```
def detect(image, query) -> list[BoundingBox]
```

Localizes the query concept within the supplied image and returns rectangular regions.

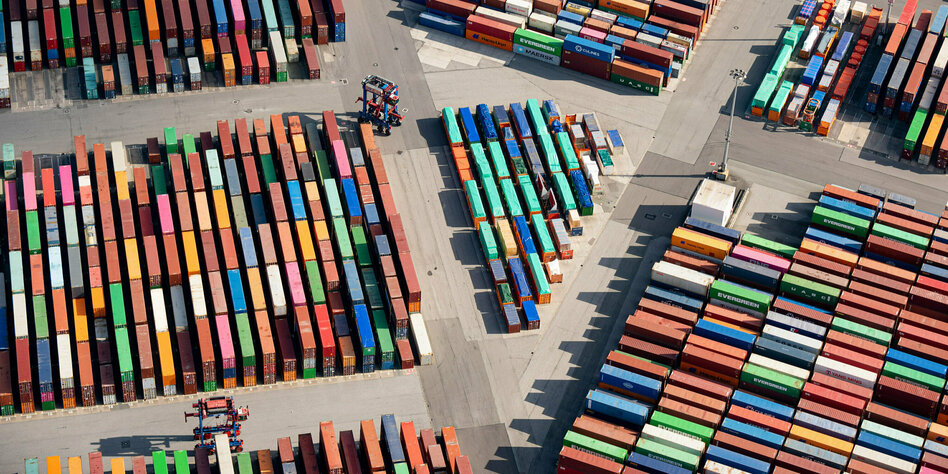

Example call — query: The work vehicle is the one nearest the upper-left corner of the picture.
[354,74,406,138]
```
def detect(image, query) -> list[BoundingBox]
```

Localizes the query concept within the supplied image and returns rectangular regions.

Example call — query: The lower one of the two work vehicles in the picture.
[177,394,251,453]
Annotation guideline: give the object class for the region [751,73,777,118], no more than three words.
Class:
shipping container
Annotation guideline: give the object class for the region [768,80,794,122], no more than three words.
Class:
shipping container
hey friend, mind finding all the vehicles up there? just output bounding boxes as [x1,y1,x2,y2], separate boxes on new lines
[177,394,251,453]
[354,74,406,138]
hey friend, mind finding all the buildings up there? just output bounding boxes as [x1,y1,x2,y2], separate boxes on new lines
[692,179,736,229]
